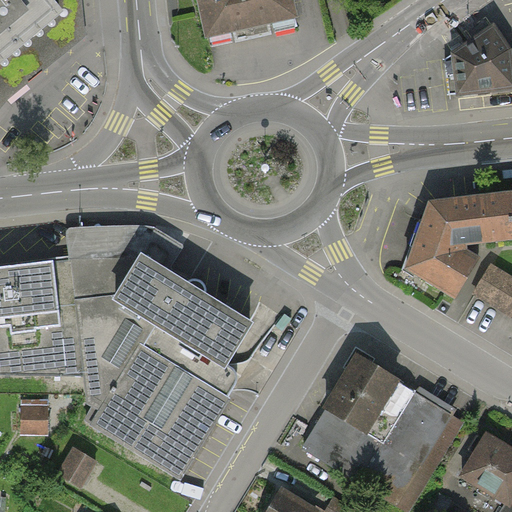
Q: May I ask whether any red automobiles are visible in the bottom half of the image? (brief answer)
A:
No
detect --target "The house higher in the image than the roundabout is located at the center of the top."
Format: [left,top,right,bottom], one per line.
[204,0,297,48]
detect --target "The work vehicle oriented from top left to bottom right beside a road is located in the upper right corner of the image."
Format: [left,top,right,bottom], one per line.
[438,1,460,30]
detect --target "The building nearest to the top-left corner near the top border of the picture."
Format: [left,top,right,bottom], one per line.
[0,0,70,68]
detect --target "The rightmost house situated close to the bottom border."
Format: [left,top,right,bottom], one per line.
[459,432,512,510]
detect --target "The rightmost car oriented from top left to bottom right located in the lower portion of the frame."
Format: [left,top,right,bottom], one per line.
[307,462,328,480]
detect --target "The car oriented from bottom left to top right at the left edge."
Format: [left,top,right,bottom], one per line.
[2,126,19,148]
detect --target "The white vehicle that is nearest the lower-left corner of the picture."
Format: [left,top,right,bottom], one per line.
[170,481,204,501]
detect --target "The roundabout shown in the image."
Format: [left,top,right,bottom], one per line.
[185,94,345,246]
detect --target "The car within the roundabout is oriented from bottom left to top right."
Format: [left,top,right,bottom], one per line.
[210,122,232,139]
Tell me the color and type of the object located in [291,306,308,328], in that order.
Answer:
gray car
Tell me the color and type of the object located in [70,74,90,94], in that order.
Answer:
white car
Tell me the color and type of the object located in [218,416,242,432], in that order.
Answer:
white car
